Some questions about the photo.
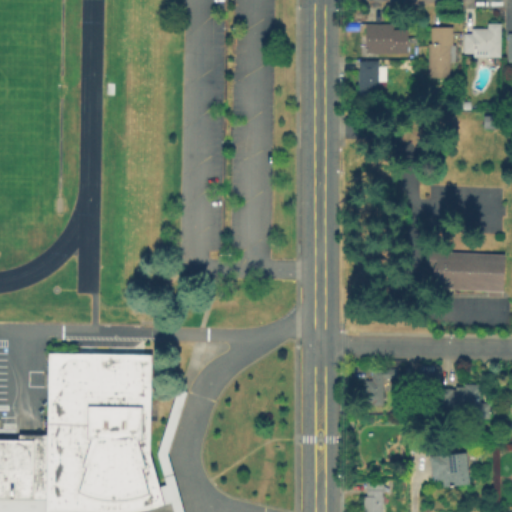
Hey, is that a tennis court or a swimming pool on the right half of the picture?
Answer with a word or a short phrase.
swimming pool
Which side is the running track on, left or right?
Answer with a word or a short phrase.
left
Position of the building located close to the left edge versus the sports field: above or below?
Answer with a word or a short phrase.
below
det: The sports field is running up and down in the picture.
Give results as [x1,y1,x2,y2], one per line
[0,0,82,272]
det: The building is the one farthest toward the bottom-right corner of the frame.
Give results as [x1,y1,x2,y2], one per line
[430,454,470,488]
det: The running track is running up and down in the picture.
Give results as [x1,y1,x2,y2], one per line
[0,0,105,294]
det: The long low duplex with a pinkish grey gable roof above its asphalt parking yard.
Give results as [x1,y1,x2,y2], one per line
[432,252,506,296]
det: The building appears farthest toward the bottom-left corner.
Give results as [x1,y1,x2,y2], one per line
[0,354,165,512]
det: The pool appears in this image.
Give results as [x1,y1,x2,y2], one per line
[473,62,499,96]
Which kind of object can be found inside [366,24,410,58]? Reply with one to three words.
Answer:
house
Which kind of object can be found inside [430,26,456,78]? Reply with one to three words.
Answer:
house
